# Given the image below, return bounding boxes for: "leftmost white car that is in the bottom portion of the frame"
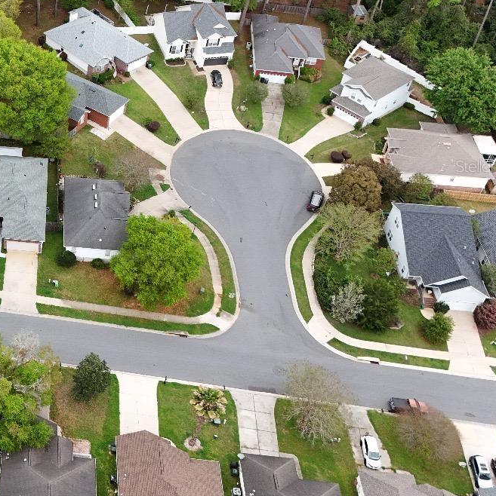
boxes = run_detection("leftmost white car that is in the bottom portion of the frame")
[361,432,384,468]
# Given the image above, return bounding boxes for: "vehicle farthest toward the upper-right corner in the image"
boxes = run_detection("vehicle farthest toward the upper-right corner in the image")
[309,190,325,210]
